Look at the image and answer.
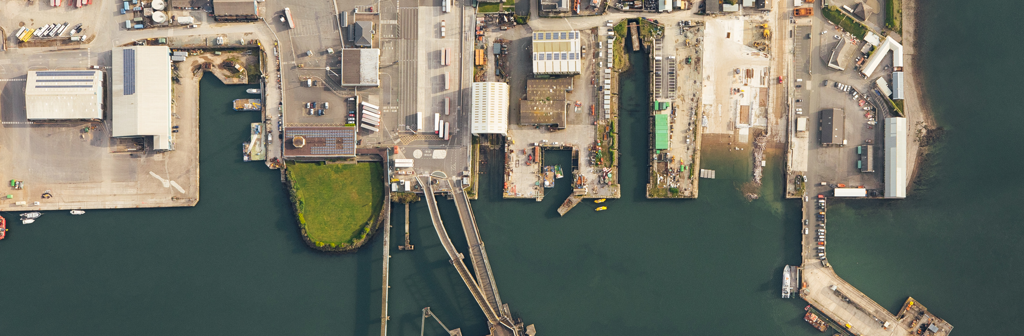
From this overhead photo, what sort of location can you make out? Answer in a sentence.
It's a port.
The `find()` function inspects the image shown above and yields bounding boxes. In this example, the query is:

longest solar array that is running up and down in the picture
[123,48,135,95]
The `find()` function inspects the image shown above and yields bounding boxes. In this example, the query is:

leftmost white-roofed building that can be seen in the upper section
[26,70,104,120]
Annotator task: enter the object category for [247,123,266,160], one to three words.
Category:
ship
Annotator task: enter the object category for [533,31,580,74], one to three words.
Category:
building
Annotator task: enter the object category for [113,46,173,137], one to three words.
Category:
building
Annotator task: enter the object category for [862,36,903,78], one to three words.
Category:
shed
